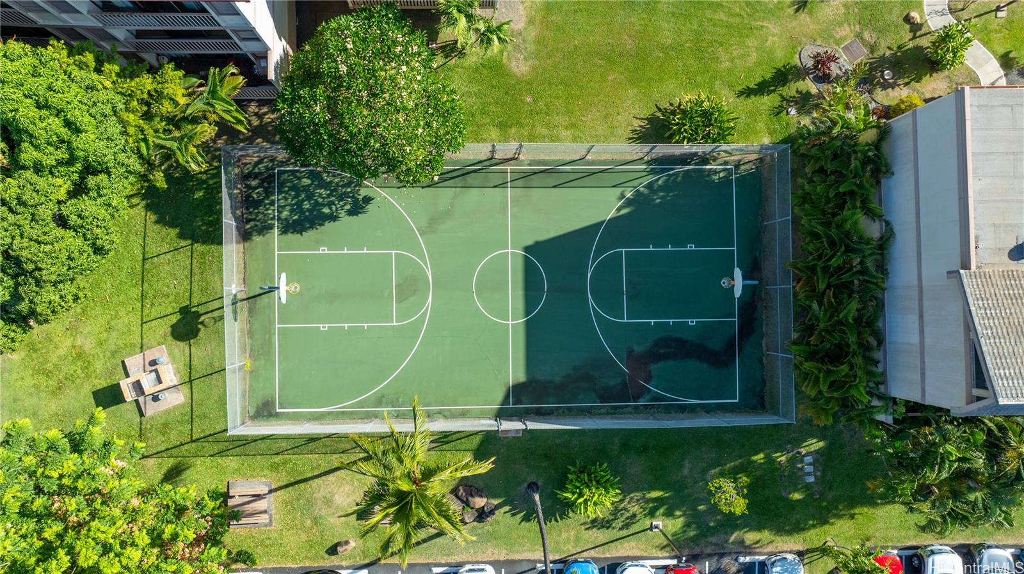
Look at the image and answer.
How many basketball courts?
1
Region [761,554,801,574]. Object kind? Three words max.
car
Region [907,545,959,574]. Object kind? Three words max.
car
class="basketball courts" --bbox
[249,161,764,420]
